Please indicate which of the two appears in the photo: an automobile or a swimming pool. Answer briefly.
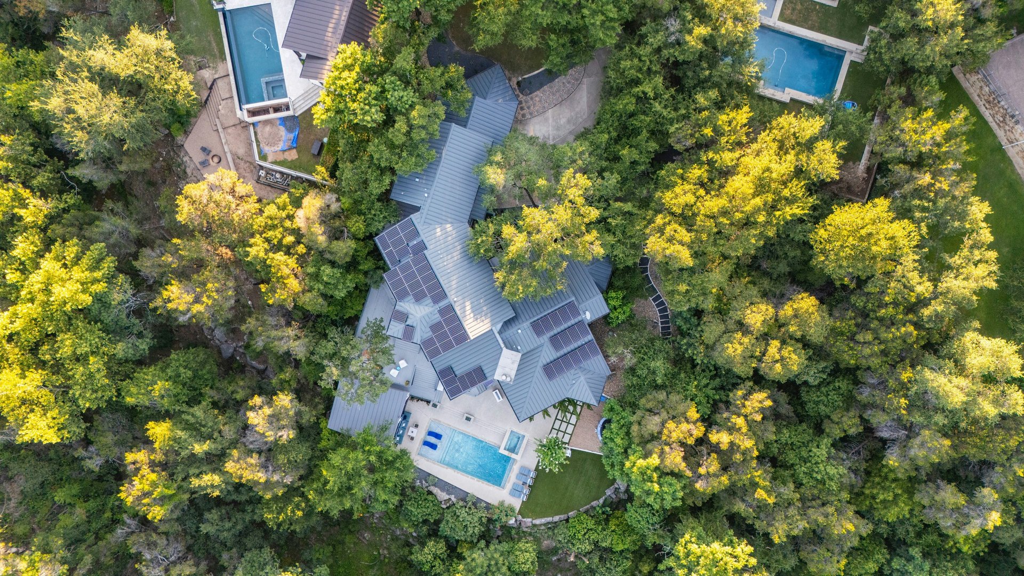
swimming pool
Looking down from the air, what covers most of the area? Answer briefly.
trees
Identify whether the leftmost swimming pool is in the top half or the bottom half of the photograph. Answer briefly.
top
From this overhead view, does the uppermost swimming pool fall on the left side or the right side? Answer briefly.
right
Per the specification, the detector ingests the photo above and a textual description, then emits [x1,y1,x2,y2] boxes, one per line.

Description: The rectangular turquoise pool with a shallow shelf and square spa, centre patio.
[415,416,519,494]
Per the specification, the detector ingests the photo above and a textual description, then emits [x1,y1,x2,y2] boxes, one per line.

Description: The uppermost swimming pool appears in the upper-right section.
[762,0,784,20]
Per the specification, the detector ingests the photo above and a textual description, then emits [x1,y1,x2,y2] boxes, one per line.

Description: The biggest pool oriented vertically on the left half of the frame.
[218,4,296,123]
